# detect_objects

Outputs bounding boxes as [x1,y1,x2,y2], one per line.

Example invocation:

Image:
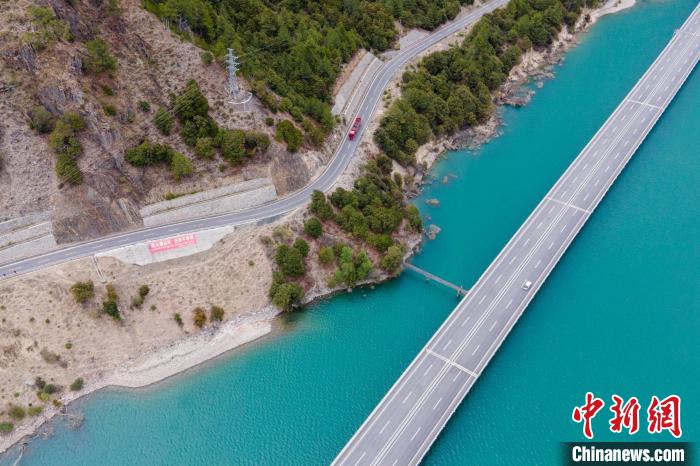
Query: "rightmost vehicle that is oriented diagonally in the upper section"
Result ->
[345,121,360,141]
